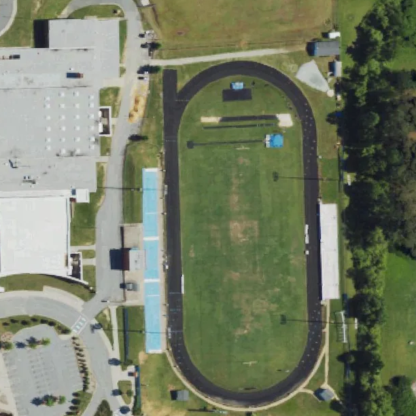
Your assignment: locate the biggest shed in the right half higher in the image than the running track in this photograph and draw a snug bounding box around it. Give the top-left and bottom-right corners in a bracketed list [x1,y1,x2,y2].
[312,40,342,56]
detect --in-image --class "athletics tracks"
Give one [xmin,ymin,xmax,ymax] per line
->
[162,59,324,405]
